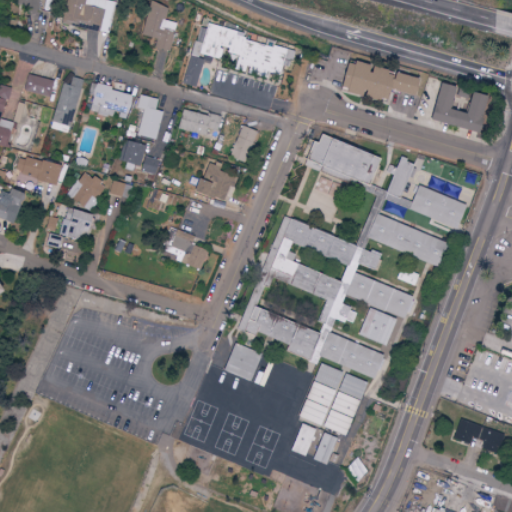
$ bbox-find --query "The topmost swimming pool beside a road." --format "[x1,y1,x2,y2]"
[198,60,217,90]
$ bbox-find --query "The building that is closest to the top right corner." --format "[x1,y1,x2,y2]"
[433,82,489,132]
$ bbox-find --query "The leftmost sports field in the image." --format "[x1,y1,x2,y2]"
[0,402,158,512]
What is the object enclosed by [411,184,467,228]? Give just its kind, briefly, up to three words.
building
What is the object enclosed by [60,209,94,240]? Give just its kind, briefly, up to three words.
house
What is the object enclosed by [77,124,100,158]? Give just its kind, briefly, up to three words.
swimming pool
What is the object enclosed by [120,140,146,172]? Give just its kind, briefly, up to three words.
house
